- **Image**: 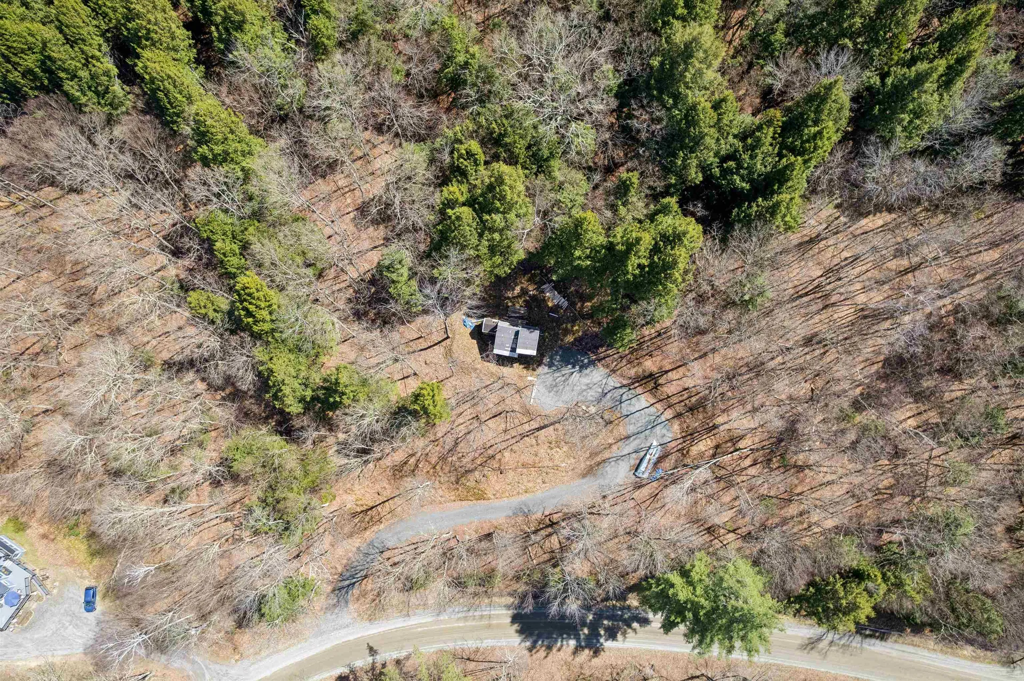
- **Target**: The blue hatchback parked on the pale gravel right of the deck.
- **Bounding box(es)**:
[81,585,99,613]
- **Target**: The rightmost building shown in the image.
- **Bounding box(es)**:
[478,315,540,356]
